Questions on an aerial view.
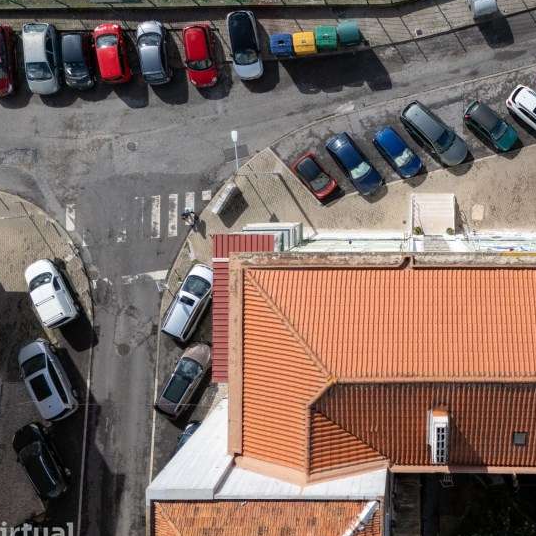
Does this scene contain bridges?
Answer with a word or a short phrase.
No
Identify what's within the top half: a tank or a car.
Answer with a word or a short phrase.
car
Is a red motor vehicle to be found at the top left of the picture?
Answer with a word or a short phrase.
Yes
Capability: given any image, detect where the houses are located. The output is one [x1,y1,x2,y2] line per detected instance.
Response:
[227,230,536,492]
[154,468,391,536]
